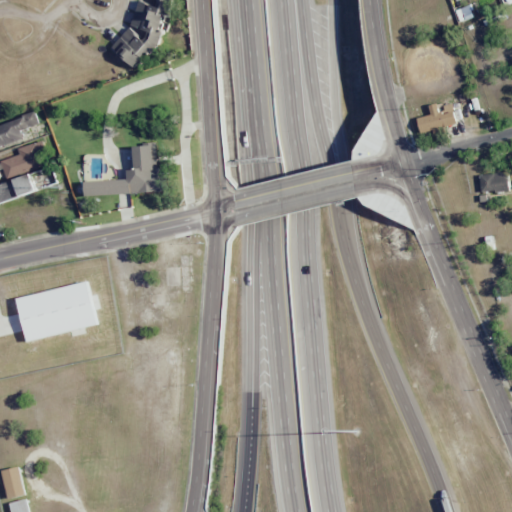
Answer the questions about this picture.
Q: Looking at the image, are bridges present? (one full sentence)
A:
Yes, there is a bridge in the image.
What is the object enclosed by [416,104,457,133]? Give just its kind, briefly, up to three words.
house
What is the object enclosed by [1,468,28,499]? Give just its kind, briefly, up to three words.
house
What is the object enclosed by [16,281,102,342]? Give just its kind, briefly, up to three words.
building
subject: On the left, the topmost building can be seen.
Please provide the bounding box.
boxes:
[114,0,170,67]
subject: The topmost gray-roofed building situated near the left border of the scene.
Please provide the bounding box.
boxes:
[0,112,40,146]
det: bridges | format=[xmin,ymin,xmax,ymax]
[236,162,358,226]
